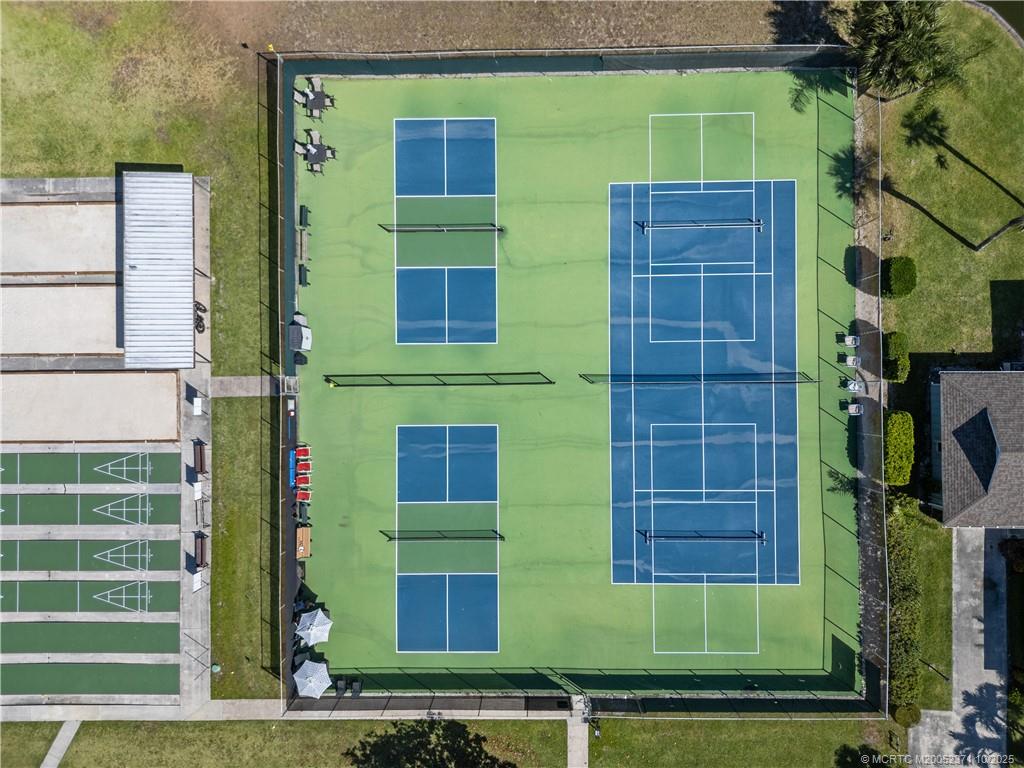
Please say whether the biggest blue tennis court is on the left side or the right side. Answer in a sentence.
It is on the right.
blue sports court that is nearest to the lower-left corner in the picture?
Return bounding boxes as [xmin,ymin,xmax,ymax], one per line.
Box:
[396,424,499,654]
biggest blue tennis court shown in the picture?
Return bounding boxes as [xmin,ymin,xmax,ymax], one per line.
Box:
[610,179,801,585]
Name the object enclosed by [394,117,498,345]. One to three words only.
sports court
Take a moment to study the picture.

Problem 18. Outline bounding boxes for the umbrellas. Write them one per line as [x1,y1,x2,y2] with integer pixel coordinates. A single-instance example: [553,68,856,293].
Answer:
[293,656,334,697]
[295,605,336,646]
